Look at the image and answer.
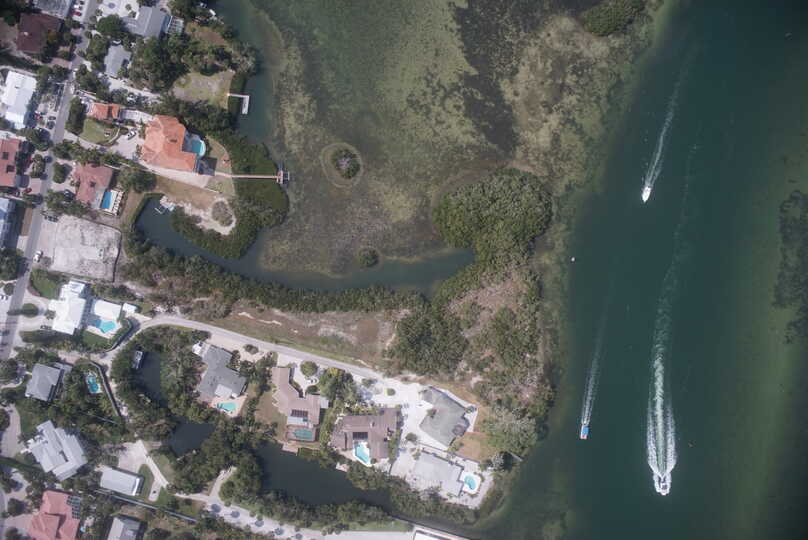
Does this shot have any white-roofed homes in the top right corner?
No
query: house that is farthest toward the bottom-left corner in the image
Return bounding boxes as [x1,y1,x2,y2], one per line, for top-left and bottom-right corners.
[28,489,84,540]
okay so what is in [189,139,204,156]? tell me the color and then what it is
blue swimming pool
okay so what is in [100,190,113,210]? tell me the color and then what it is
blue swimming pool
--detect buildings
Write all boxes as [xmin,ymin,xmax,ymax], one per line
[100,467,142,496]
[17,13,62,57]
[26,420,90,480]
[142,115,197,171]
[331,407,398,458]
[24,363,62,401]
[33,0,77,19]
[0,138,23,187]
[271,367,320,425]
[421,388,469,446]
[95,300,123,320]
[121,6,166,38]
[48,281,89,335]
[109,516,142,540]
[0,197,16,246]
[84,103,121,122]
[0,71,38,127]
[76,163,114,205]
[105,46,131,78]
[200,345,247,397]
[28,489,84,540]
[413,452,464,497]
